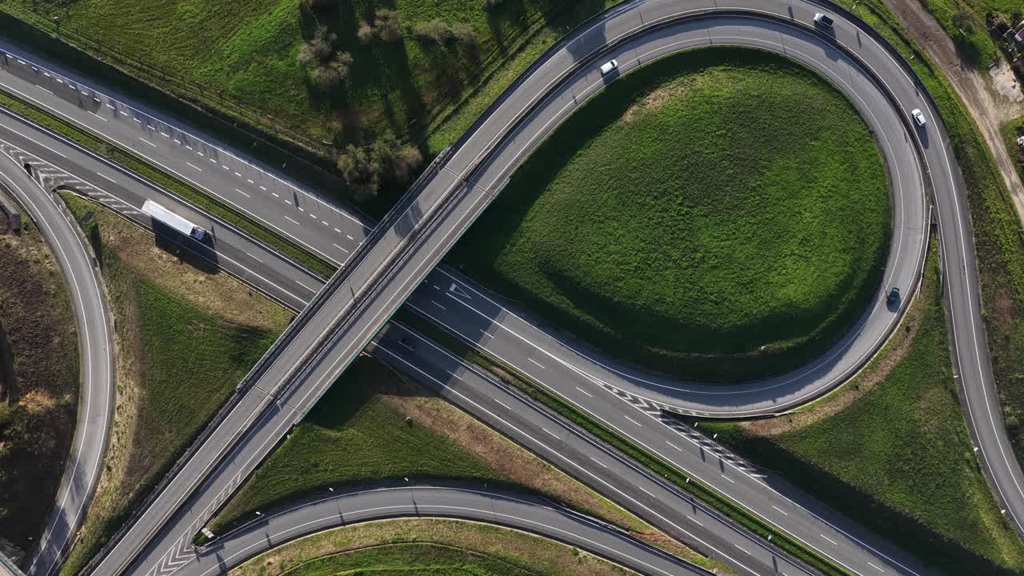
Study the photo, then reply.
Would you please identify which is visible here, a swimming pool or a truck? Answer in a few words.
truck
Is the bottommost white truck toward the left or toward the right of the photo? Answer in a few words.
left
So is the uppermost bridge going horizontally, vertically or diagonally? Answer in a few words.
diagonally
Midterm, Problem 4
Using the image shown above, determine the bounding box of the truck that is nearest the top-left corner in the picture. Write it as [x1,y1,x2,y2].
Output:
[141,203,209,245]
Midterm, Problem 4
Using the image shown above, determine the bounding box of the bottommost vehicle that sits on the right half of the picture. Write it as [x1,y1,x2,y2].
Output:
[888,285,900,304]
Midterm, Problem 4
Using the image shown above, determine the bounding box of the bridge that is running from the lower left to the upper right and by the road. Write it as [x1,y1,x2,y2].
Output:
[250,164,494,419]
